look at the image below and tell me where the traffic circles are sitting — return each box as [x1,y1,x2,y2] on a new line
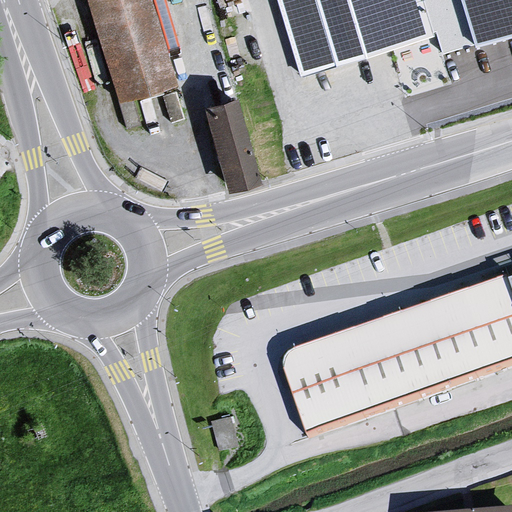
[0,84,220,428]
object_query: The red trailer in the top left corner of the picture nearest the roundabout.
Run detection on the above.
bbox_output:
[64,30,96,93]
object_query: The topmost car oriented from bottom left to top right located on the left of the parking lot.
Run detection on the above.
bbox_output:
[40,228,64,247]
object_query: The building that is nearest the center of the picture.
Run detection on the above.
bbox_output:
[206,100,262,194]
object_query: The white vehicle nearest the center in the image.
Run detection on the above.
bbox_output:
[242,299,256,321]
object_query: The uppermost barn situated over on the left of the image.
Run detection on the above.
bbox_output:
[88,0,178,103]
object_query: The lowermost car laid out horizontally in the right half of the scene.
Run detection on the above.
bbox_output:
[430,392,453,405]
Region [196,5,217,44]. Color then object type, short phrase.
white vehicle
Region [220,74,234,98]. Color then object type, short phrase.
white vehicle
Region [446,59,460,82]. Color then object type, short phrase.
white car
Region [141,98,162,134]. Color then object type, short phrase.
white truck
